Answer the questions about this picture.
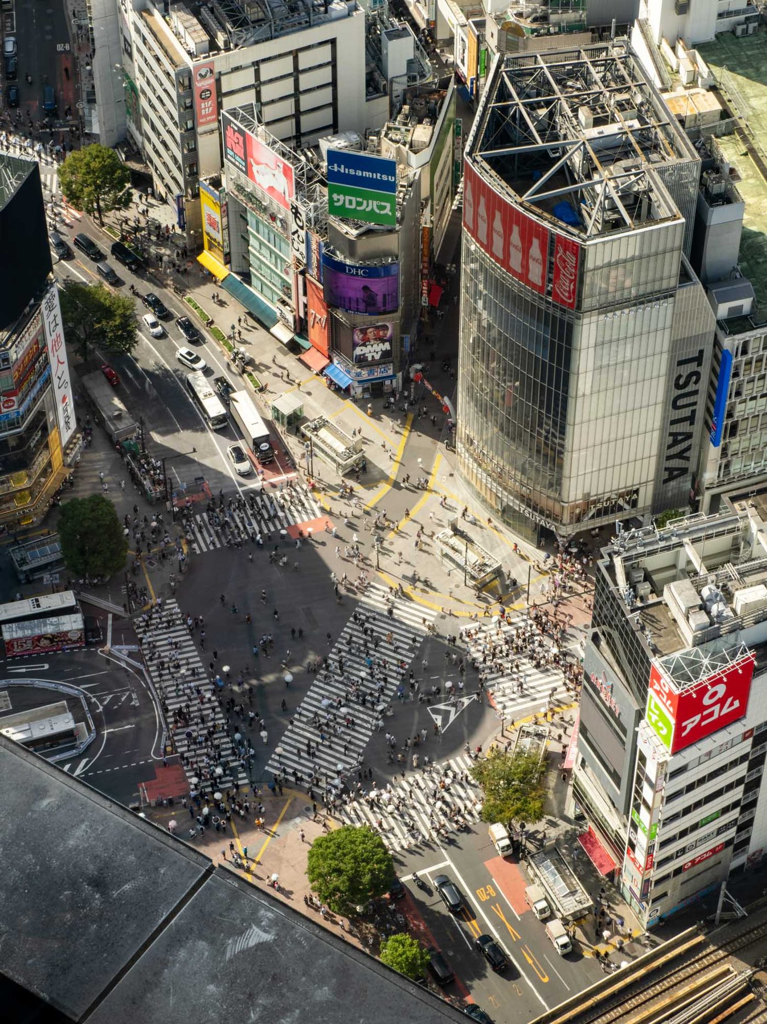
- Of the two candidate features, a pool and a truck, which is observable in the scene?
truck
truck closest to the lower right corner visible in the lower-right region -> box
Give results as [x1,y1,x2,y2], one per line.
[548,915,576,951]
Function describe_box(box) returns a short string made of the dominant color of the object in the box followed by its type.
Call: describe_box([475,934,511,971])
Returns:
black car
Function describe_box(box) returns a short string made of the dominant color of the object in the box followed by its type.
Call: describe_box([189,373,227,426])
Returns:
white bus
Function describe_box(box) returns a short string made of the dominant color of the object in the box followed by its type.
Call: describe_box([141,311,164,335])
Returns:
white car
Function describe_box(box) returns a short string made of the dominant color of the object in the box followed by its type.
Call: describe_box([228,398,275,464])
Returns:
white truck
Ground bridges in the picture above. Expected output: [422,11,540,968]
[549,894,767,1024]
